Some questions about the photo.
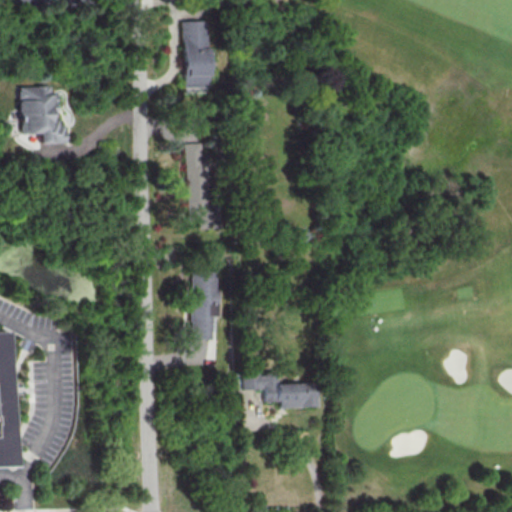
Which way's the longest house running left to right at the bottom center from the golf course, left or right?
to the left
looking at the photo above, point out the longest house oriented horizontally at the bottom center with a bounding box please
[242,375,320,409]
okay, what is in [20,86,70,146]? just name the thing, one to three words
house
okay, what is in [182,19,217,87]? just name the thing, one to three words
house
